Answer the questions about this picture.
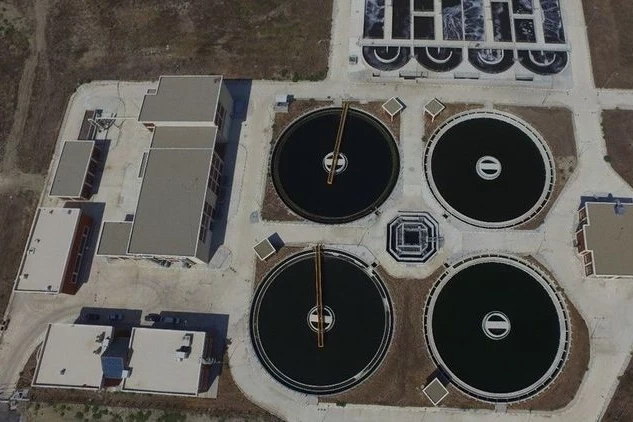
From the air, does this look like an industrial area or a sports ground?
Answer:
industrial area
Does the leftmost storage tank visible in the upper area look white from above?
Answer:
No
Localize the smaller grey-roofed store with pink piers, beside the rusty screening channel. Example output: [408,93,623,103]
[49,141,98,201]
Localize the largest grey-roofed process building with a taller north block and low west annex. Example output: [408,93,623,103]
[97,76,234,267]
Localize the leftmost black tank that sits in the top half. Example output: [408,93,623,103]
[270,99,399,226]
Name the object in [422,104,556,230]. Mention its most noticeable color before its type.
black storage tank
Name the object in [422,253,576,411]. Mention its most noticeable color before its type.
black storage tank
